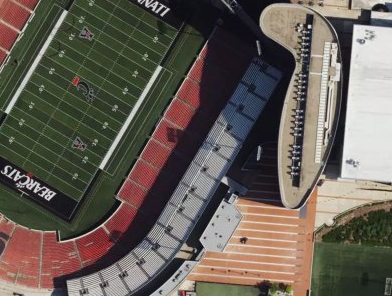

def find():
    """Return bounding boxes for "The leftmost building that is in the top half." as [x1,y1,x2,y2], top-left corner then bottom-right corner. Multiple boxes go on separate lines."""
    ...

[259,4,343,209]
